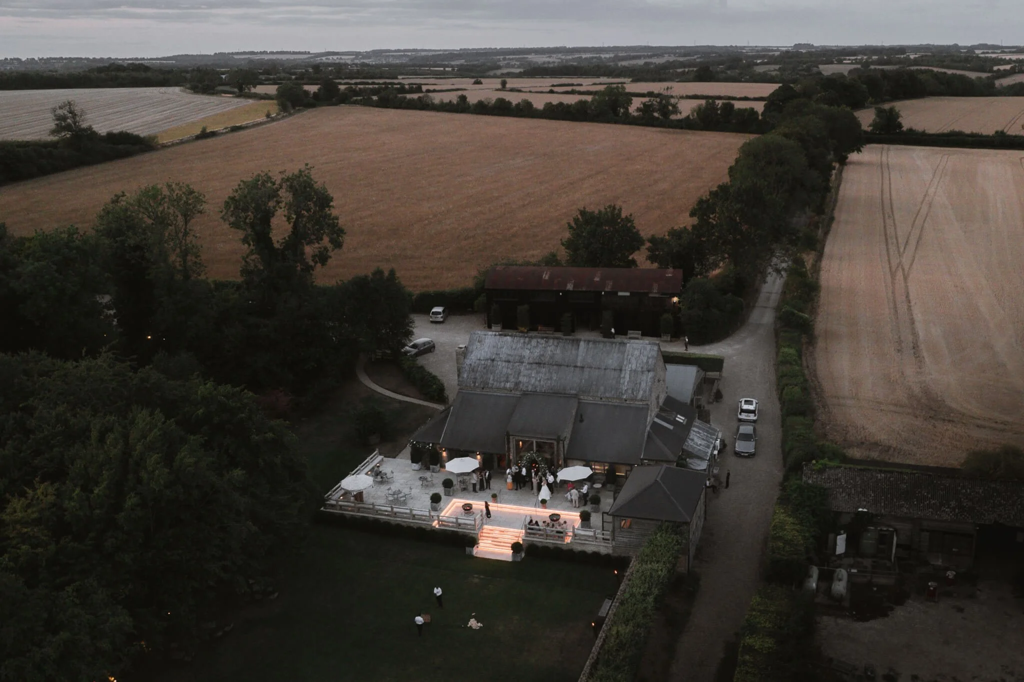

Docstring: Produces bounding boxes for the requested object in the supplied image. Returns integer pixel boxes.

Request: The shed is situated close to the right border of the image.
[796,462,1024,550]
